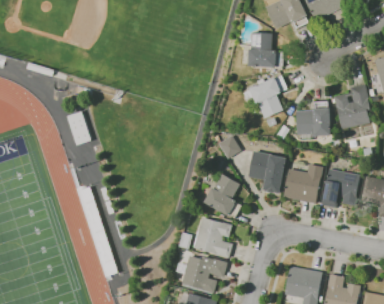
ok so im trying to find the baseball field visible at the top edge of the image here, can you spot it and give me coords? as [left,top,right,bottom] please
[0,0,233,114]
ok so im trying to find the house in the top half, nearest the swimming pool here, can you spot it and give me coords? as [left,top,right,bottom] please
[248,30,277,67]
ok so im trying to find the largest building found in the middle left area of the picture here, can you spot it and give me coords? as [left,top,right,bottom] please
[68,111,92,145]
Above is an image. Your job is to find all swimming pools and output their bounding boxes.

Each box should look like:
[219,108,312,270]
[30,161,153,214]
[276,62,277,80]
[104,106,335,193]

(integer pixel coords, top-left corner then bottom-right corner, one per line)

[241,20,260,44]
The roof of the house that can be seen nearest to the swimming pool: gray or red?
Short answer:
gray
